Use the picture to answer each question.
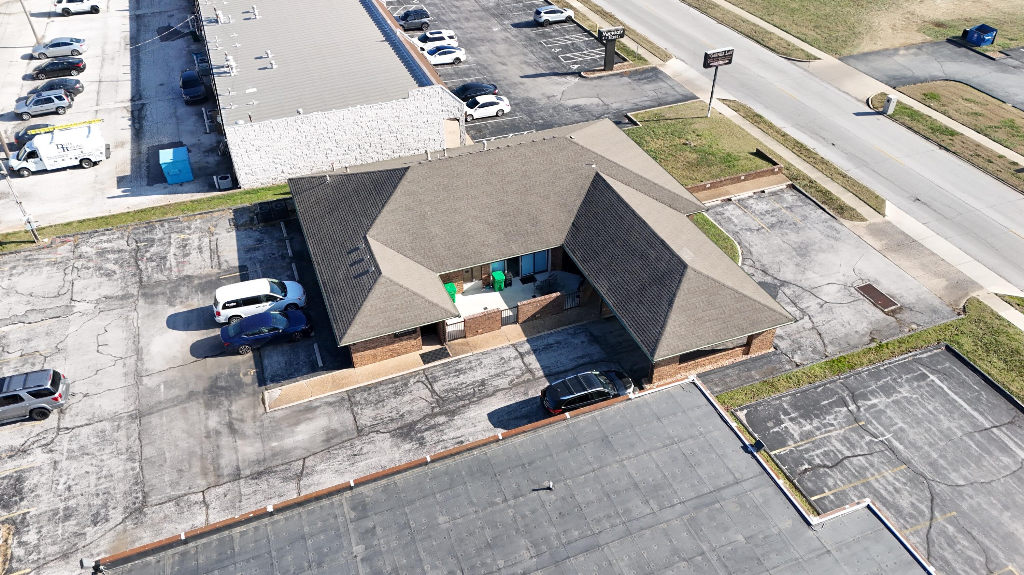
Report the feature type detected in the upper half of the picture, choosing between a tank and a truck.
truck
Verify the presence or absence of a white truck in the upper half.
Yes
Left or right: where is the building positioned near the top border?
left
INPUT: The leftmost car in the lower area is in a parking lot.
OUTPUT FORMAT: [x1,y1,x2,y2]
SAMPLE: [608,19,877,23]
[0,365,73,426]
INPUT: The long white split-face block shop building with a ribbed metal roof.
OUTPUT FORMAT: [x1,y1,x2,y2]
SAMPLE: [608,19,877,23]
[193,0,466,188]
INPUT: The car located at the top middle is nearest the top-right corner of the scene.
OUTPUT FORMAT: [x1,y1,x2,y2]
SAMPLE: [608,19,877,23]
[532,3,577,25]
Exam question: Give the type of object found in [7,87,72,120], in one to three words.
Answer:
car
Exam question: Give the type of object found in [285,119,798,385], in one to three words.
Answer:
building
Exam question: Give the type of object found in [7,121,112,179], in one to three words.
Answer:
truck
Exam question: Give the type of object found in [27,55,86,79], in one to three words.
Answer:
car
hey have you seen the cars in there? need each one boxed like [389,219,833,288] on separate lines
[7,87,72,120]
[396,7,432,30]
[24,78,88,99]
[423,44,468,65]
[51,0,104,16]
[208,273,308,323]
[464,93,513,121]
[0,365,73,426]
[12,120,81,148]
[453,81,499,100]
[27,55,86,79]
[28,36,88,59]
[180,67,208,104]
[215,306,315,355]
[411,24,461,51]
[539,368,642,421]
[532,3,577,25]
